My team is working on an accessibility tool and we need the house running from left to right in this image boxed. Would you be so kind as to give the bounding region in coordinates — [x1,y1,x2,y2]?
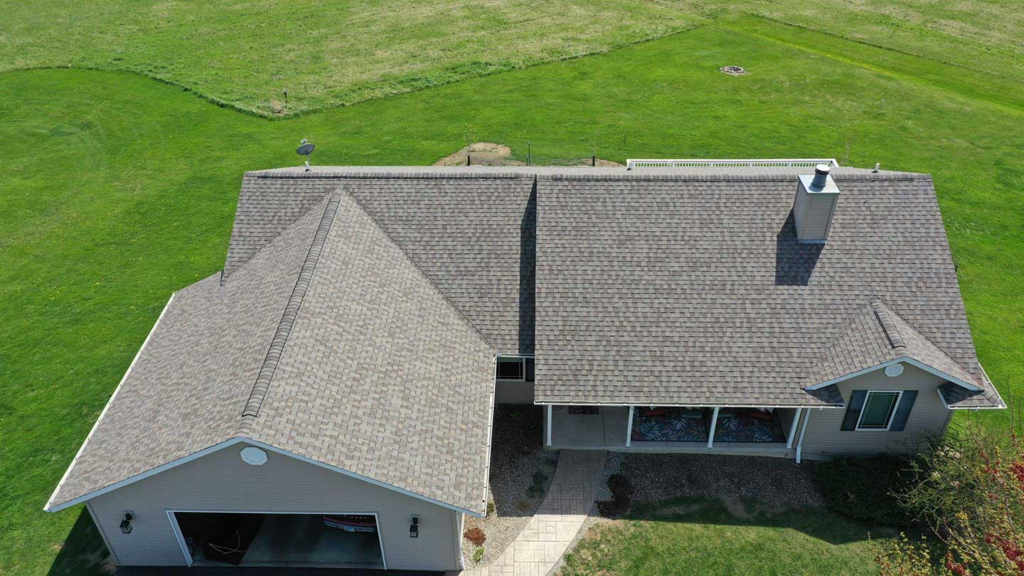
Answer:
[40,163,1014,576]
